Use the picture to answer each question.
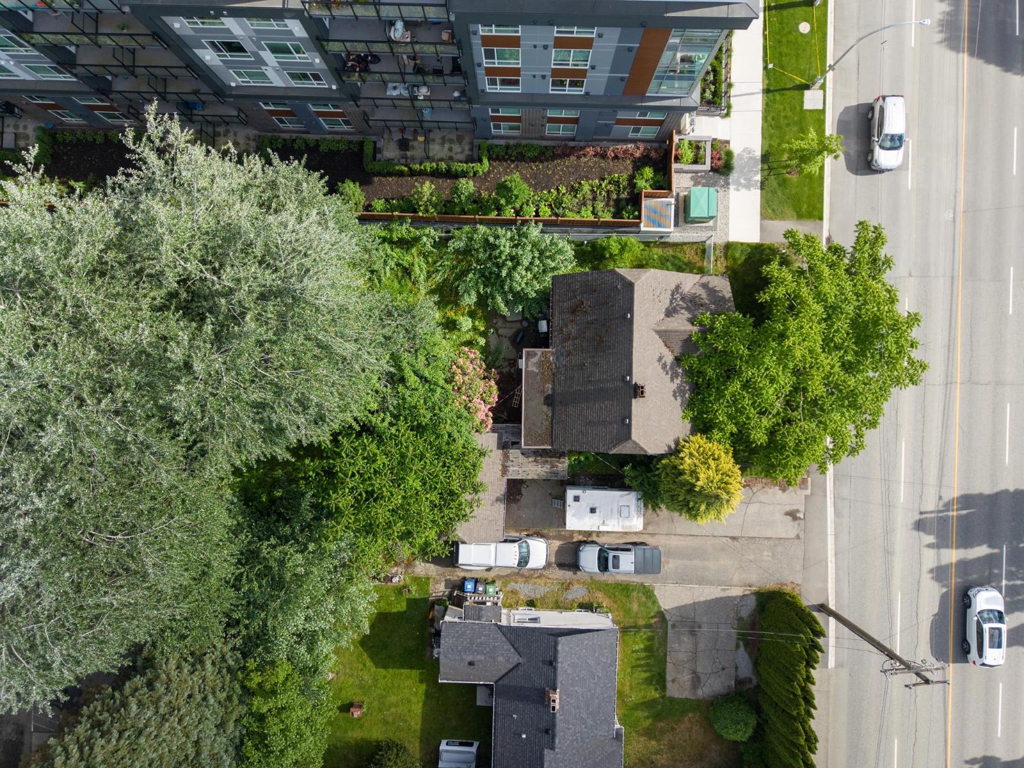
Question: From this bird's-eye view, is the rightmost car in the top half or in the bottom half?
bottom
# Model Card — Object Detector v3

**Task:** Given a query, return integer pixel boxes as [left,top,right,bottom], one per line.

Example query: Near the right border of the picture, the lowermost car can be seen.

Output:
[960,586,1003,664]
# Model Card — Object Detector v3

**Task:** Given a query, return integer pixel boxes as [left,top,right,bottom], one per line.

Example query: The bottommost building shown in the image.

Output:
[436,590,627,768]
